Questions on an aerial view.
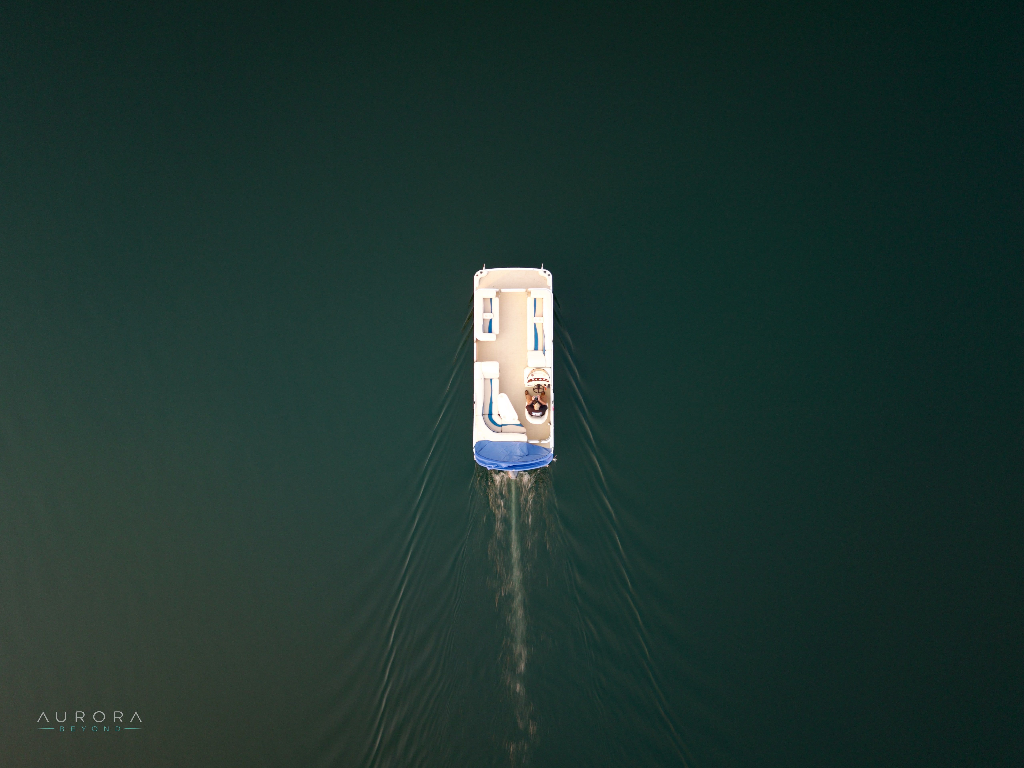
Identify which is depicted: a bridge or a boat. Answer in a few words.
boat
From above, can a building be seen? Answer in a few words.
No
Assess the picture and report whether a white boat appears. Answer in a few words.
Yes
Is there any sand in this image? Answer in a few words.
No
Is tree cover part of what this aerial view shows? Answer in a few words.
No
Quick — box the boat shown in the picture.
[473,263,554,478]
